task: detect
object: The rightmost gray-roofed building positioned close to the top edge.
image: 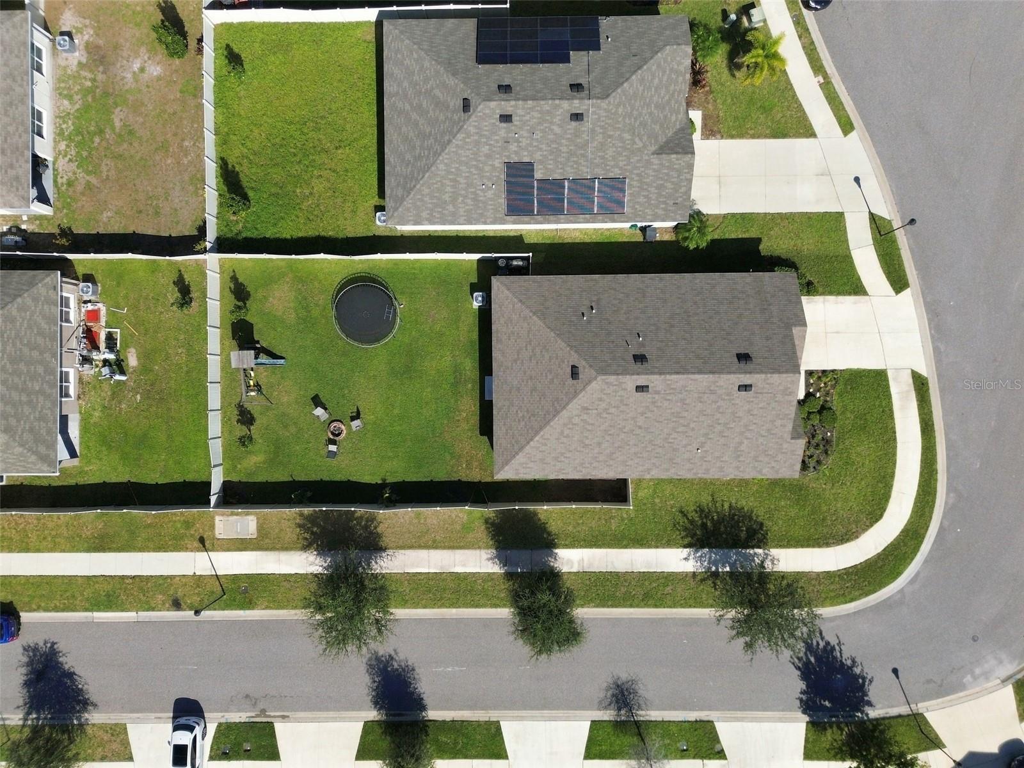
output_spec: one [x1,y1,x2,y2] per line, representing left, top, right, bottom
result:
[383,15,698,229]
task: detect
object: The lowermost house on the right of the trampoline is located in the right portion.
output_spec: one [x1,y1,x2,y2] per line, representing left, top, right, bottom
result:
[485,274,807,480]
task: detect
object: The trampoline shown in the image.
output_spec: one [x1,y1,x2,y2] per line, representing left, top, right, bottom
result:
[334,282,399,347]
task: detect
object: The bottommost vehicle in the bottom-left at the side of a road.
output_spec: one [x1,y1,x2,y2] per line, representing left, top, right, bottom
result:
[171,719,206,768]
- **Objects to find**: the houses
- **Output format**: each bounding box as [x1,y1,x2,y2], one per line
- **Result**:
[0,269,79,474]
[383,15,698,229]
[0,9,54,214]
[485,274,807,480]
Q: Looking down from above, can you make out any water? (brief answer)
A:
No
